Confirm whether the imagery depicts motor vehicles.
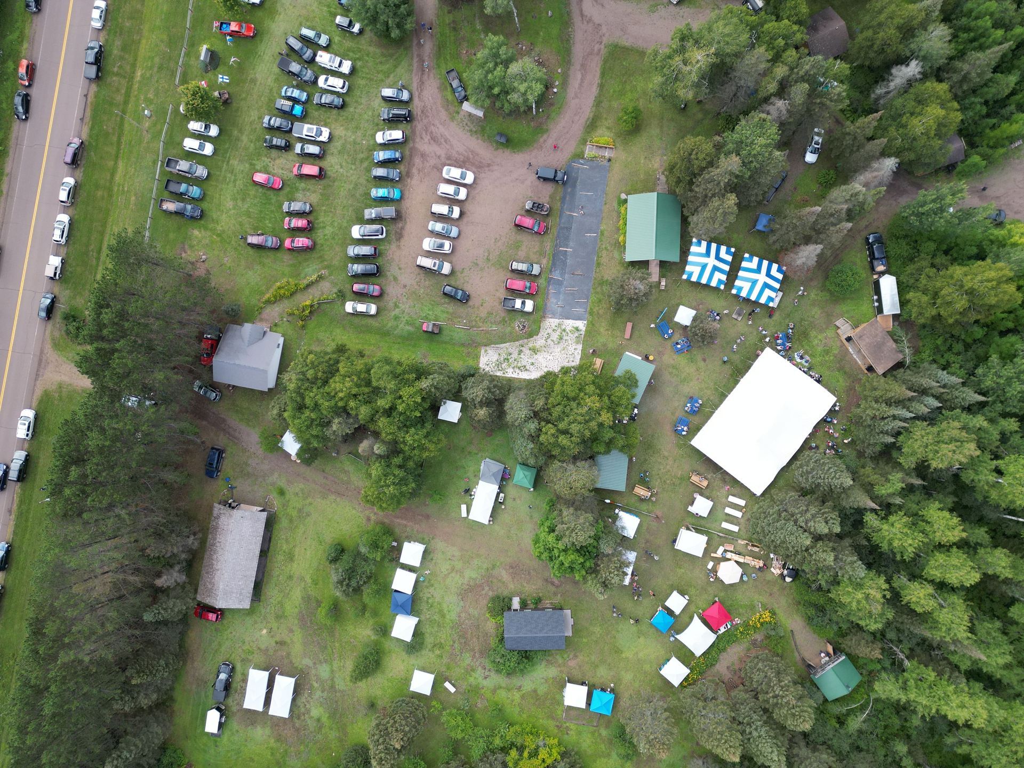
Yes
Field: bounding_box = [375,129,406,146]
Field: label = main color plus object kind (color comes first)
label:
white car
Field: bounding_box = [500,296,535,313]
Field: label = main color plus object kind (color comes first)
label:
white vehicle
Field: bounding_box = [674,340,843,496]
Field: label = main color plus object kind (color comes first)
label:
white tent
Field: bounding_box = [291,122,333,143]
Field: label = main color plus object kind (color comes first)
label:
white truck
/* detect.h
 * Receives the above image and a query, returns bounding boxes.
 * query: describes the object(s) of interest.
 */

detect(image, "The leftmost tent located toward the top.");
[675,237,735,297]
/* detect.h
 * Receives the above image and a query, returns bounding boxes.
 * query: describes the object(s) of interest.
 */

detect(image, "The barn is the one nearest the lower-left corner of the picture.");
[197,502,276,609]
